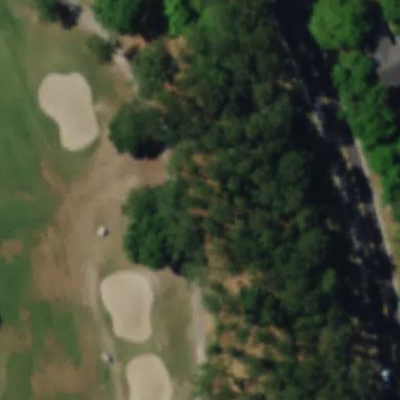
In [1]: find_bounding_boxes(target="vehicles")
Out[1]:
[100,352,112,363]
[96,226,107,235]
[380,365,392,386]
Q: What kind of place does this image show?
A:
golf course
